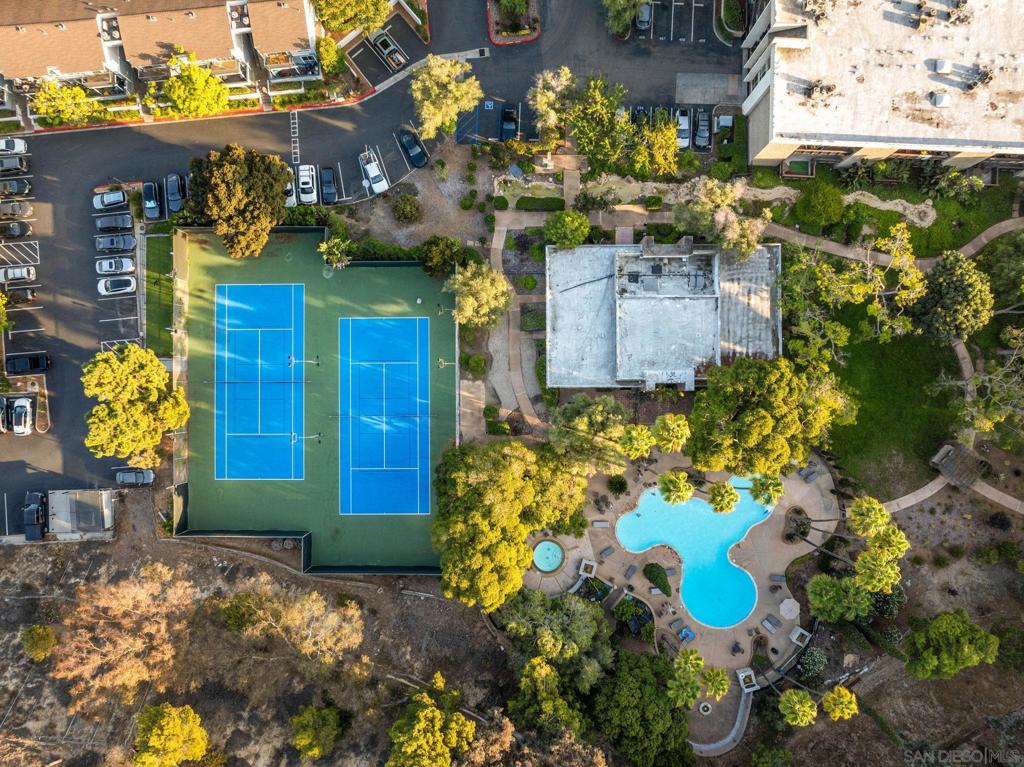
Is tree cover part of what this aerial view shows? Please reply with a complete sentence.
Yes, there's tree cover in this view.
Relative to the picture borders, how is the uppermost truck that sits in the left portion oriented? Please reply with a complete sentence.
The uppermost truck that sits in the left portion has been laid out on a diagonal relative to the frame.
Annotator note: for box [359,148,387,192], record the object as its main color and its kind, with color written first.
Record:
white truck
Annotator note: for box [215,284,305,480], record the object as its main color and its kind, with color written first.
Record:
blue tennis court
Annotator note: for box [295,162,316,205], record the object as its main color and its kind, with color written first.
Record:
white car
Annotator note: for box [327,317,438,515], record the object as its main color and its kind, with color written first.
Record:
blue tennis court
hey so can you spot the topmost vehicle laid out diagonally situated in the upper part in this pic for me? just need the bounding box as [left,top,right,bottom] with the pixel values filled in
[369,26,405,67]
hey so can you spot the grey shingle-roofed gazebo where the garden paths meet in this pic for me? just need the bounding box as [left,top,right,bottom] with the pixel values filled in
[923,439,986,494]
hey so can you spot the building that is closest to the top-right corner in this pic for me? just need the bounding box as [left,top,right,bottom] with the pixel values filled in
[735,0,1024,158]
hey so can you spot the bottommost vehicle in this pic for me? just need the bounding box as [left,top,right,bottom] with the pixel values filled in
[21,493,46,539]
